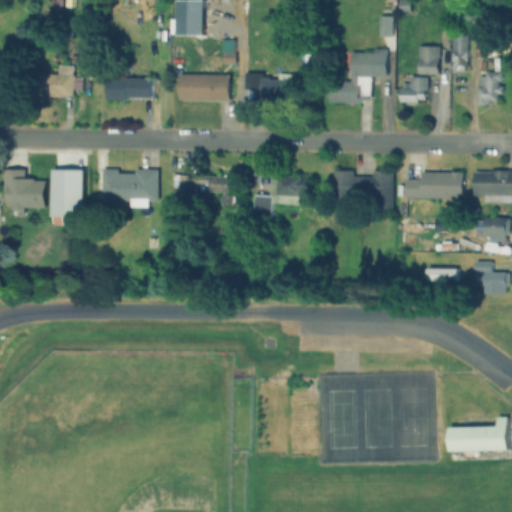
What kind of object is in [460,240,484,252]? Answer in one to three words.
vehicle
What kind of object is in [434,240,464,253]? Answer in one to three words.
vehicle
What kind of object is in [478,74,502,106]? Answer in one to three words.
house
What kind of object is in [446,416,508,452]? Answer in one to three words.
building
